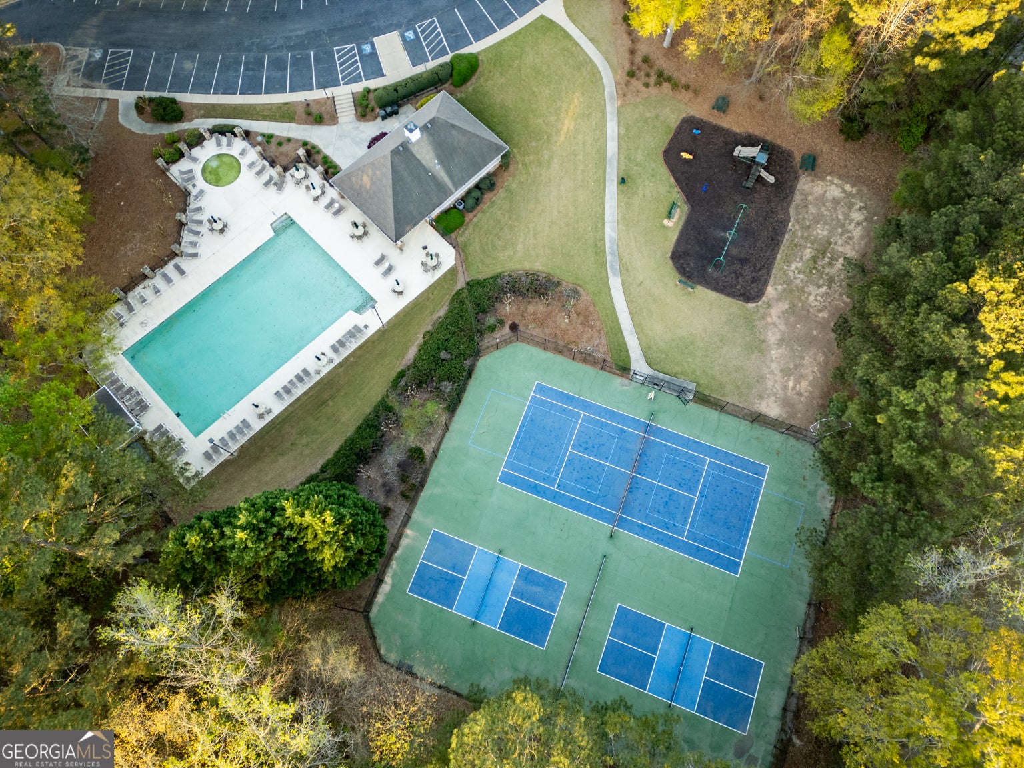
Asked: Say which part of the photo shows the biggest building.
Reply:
top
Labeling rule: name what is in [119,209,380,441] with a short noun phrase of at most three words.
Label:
swimming pool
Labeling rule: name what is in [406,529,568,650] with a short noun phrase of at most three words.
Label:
sports court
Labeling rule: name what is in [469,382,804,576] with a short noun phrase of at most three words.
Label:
tennis court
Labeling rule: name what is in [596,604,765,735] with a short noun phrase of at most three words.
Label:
sports court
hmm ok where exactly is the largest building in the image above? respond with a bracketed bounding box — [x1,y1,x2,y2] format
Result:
[329,91,510,254]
